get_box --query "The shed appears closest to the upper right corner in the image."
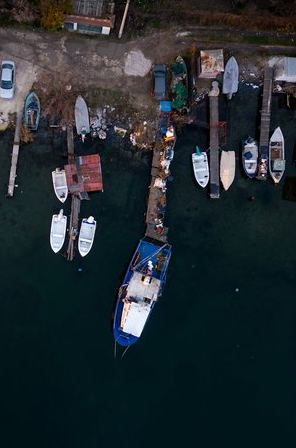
[271,57,296,83]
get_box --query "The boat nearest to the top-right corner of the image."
[223,54,240,98]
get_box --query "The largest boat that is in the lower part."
[111,239,176,350]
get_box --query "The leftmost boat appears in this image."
[24,92,40,131]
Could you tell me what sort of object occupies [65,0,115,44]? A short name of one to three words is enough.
house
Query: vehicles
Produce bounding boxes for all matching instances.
[0,61,15,100]
[151,66,168,100]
